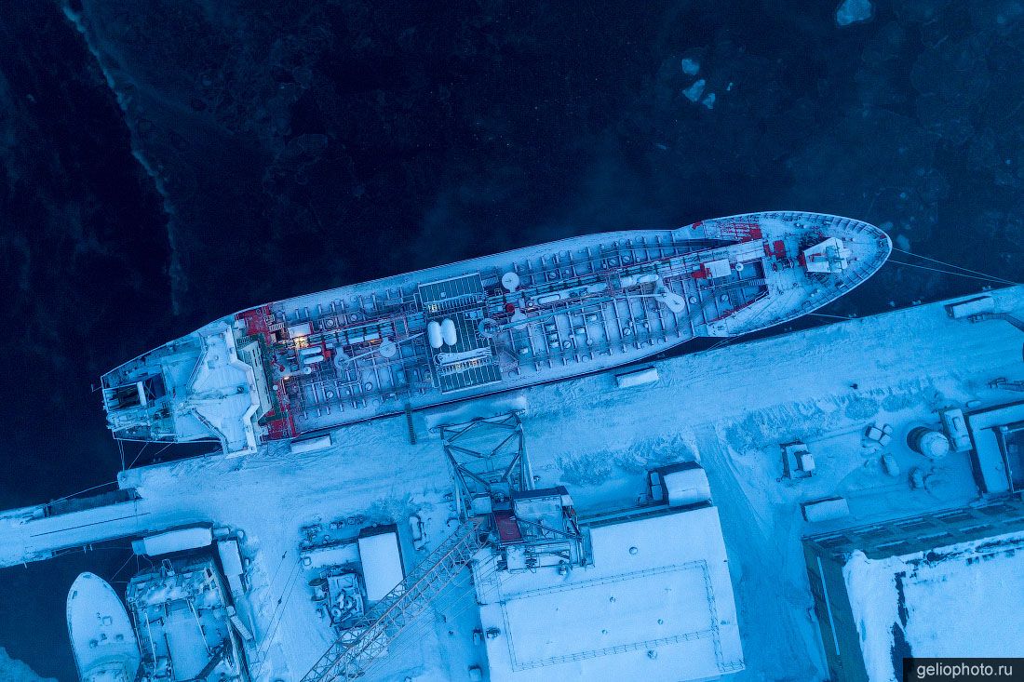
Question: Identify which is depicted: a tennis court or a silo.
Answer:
silo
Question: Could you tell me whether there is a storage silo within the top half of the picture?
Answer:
No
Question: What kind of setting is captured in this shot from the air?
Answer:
port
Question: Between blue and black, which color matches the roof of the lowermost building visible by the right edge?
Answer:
blue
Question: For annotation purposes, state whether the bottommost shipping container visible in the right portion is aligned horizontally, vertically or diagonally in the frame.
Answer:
horizontally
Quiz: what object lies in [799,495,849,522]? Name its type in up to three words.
shipping container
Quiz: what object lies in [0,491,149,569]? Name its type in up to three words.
pier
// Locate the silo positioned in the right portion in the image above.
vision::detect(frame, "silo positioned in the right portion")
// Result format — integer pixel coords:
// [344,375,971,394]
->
[904,427,951,460]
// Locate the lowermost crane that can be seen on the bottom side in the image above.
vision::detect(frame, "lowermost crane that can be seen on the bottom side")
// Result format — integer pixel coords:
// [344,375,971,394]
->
[283,407,593,682]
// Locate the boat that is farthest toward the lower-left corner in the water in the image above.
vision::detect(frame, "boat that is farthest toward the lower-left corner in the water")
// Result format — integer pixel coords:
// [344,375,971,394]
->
[67,571,141,682]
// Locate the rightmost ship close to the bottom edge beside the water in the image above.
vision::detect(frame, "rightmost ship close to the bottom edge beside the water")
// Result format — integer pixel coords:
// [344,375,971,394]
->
[127,553,255,682]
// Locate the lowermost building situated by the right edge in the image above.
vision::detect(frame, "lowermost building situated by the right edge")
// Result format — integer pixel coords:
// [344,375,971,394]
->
[805,498,1024,682]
